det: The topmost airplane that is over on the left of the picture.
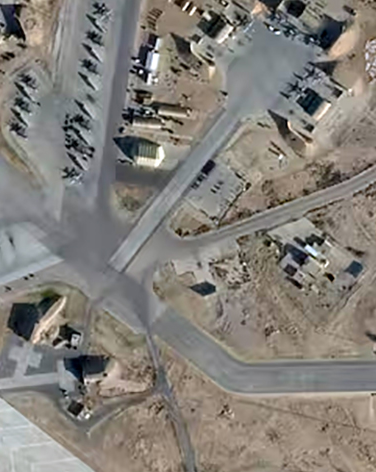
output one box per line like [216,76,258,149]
[97,6,111,21]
